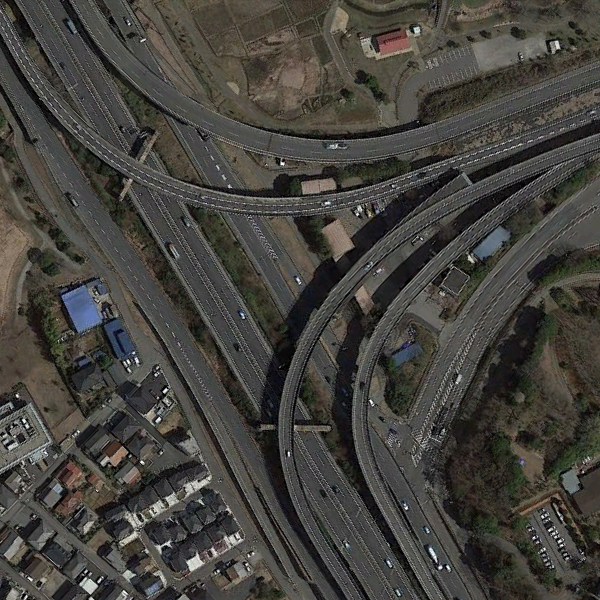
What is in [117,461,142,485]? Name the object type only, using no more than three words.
house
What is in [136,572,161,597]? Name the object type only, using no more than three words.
house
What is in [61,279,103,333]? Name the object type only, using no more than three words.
building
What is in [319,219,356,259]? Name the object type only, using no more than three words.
building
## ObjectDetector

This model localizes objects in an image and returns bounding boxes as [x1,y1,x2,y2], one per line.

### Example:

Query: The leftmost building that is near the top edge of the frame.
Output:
[363,29,412,57]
